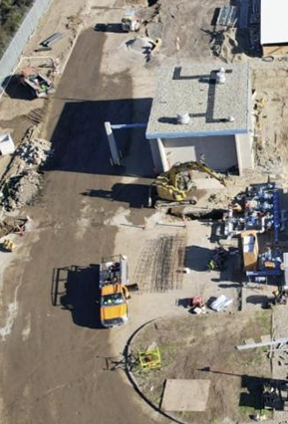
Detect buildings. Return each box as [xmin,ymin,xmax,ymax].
[254,0,288,57]
[147,61,254,181]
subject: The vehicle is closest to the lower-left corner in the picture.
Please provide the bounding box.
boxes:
[92,246,130,323]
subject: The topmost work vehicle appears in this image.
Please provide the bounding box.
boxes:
[120,11,140,31]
